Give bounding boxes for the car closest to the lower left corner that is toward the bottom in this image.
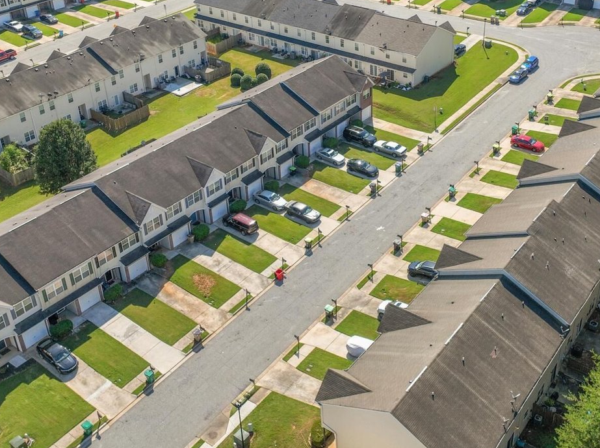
[31,337,78,374]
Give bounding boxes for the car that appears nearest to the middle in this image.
[283,200,324,225]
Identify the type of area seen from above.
residential area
